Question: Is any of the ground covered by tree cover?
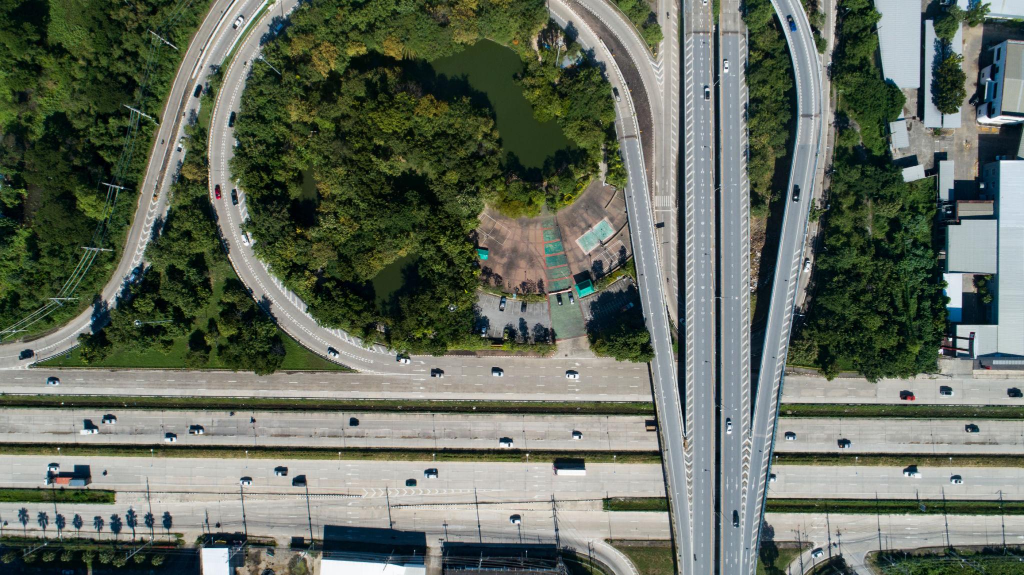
Yes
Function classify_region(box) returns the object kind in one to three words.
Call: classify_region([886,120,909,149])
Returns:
shed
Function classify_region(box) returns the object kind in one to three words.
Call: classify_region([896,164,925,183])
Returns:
shed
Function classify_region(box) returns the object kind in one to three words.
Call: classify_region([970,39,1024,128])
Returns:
building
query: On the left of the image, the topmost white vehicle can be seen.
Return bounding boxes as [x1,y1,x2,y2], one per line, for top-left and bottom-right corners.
[232,15,245,29]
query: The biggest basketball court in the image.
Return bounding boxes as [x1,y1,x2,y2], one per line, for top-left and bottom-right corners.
[576,217,616,254]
